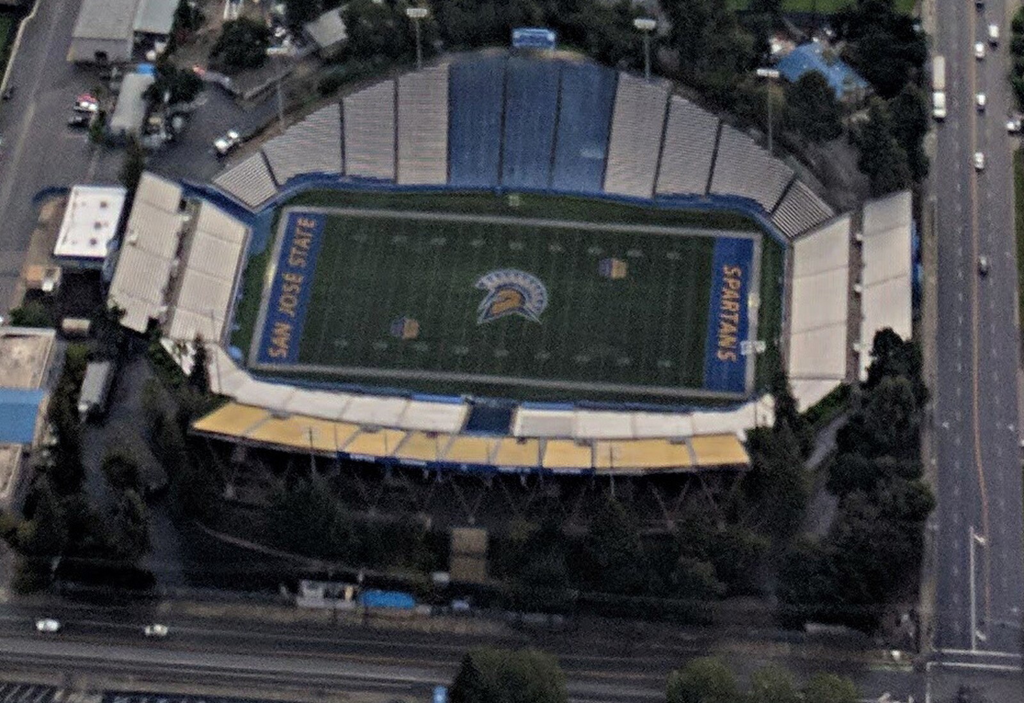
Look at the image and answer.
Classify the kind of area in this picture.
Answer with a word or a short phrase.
sports ground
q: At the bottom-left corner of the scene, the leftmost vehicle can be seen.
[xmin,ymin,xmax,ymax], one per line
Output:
[35,619,59,631]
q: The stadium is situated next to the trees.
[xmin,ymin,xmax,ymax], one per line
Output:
[107,55,914,514]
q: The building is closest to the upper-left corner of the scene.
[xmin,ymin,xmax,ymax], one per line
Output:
[67,0,140,63]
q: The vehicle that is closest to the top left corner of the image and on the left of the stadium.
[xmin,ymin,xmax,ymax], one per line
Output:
[1,87,15,101]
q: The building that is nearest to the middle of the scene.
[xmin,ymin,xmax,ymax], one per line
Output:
[448,527,490,559]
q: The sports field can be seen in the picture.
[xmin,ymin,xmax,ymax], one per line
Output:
[230,189,782,407]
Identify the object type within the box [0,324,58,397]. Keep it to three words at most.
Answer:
building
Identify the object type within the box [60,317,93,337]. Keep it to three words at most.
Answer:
shed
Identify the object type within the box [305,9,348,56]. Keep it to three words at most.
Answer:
shed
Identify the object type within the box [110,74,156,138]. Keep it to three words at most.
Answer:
building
